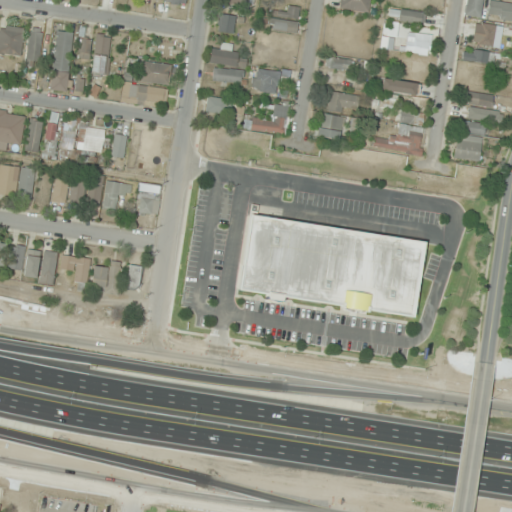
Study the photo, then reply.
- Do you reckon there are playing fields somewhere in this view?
No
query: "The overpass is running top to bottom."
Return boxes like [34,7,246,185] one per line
[454,362,498,512]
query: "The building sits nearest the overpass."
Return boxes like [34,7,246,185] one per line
[242,214,429,318]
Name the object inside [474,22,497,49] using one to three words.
house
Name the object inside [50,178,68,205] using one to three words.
house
